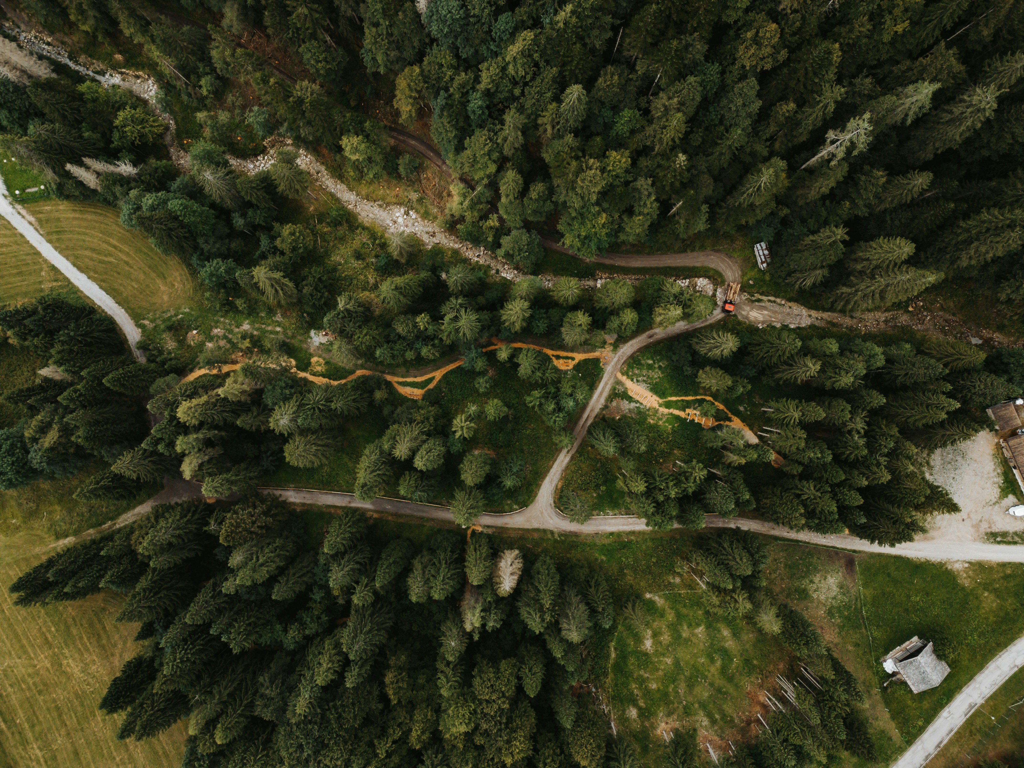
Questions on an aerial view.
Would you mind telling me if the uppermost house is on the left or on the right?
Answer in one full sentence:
The uppermost house is on the right side of the image.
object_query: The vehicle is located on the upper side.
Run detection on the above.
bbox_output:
[723,285,741,315]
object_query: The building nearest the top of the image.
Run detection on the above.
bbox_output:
[984,401,1024,431]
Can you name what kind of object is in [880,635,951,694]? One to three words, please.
barn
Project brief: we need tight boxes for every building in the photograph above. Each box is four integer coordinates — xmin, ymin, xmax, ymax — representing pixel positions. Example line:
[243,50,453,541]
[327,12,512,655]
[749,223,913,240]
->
[880,635,951,694]
[984,401,1024,431]
[1000,432,1024,495]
